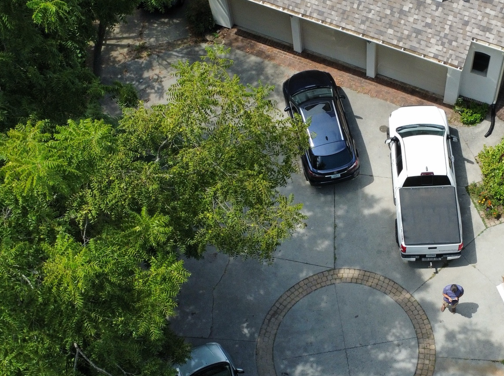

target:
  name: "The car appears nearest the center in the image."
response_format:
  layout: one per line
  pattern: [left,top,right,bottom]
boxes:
[283,72,360,189]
